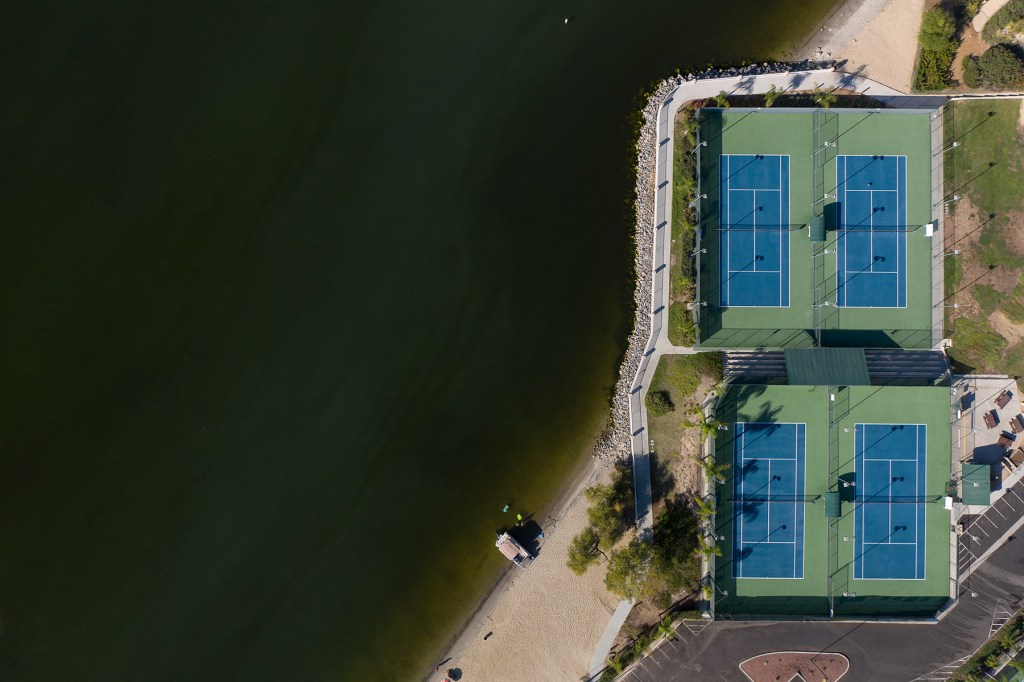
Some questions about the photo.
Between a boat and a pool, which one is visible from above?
boat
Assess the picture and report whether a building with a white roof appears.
No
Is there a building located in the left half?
No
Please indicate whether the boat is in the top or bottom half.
bottom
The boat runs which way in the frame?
at an angle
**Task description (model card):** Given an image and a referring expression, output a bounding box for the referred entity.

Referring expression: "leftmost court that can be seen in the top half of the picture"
[695,114,813,347]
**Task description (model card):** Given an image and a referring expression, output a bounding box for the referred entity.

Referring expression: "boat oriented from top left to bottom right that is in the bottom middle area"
[496,532,534,568]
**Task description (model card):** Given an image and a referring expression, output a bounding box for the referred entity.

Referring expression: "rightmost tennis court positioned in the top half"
[813,114,931,347]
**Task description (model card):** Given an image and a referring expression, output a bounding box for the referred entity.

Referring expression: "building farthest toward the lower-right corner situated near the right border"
[953,462,990,505]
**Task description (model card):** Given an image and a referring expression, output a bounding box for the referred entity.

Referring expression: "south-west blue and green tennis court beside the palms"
[710,384,829,615]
